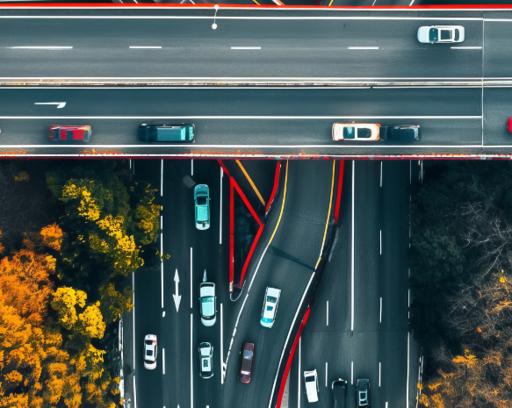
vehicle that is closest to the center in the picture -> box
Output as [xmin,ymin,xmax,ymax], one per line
[192,183,211,230]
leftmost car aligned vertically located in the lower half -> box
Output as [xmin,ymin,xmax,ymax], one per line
[141,335,158,371]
